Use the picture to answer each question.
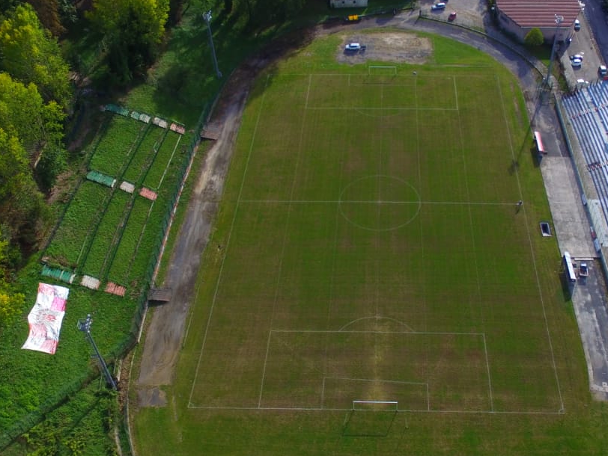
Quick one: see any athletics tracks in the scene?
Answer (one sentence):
Yes, the image includes an athletics track.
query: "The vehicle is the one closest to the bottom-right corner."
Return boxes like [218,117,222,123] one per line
[576,261,589,276]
